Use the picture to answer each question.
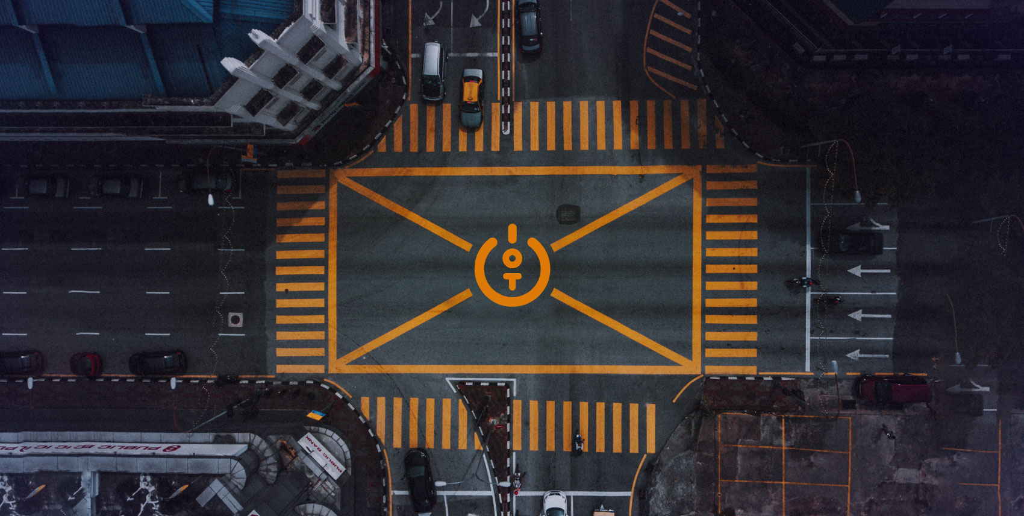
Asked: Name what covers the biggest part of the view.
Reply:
paved ground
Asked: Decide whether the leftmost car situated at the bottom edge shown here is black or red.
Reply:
black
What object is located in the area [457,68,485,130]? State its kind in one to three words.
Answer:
car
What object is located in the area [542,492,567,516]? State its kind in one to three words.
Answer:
car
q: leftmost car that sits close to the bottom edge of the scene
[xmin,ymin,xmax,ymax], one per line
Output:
[401,448,436,516]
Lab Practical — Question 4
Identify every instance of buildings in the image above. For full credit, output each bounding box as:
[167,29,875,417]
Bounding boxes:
[0,424,357,516]
[764,0,1024,50]
[0,0,383,145]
